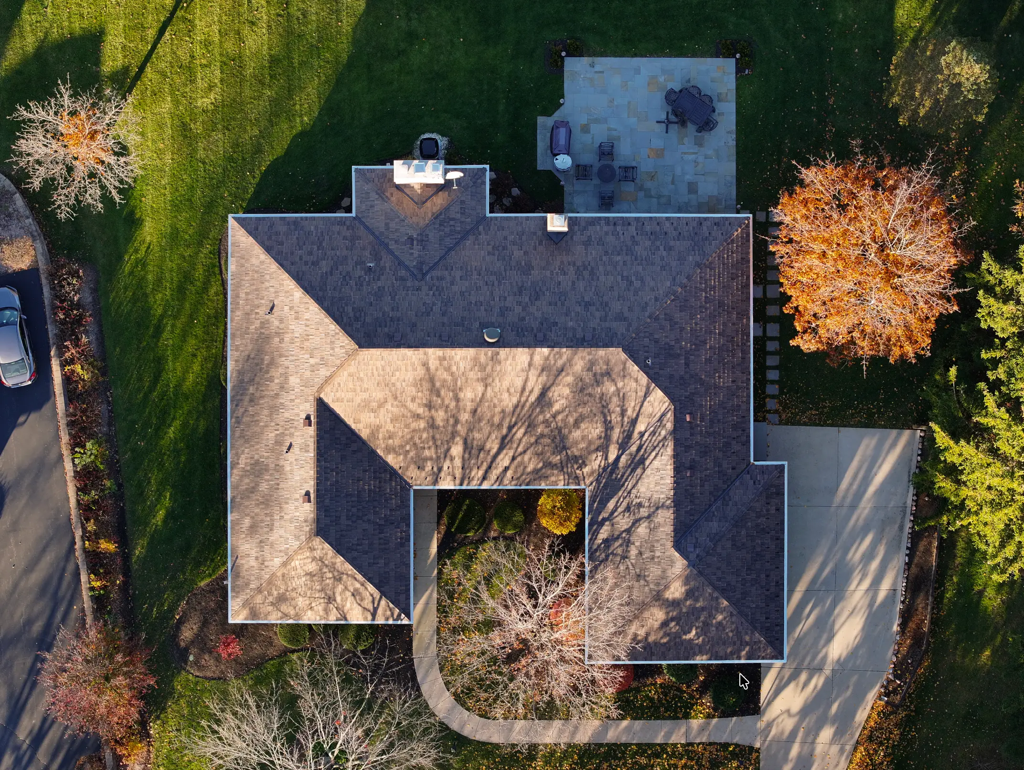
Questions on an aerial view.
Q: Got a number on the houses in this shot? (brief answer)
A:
1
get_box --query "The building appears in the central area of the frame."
[227,160,786,664]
